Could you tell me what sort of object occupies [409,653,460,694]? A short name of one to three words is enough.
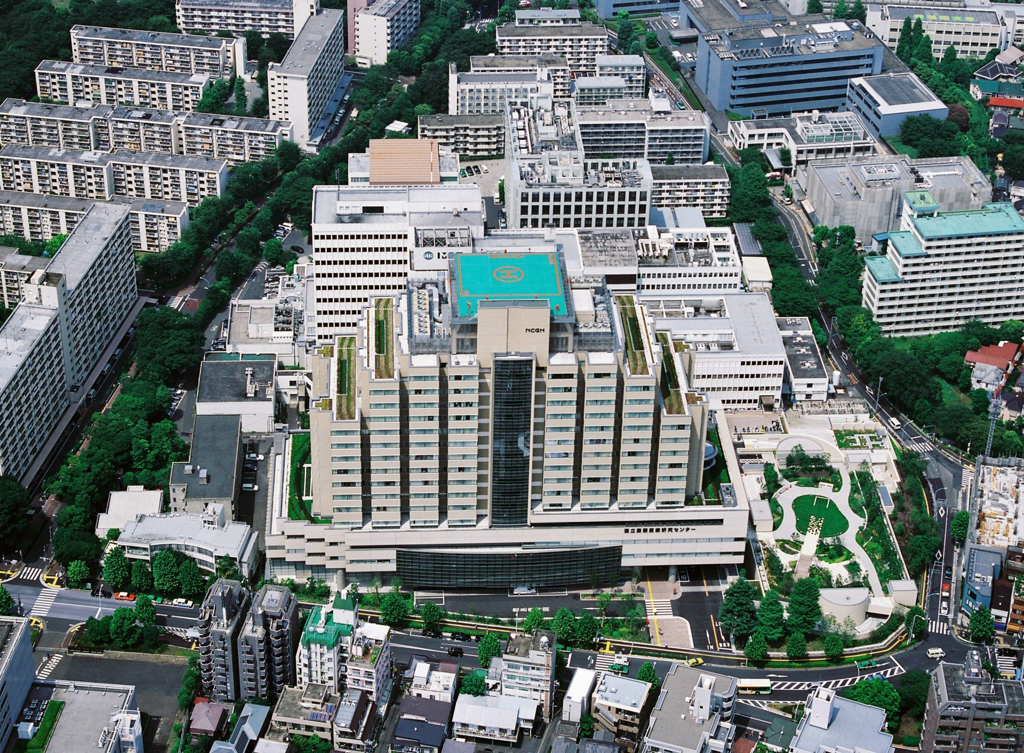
house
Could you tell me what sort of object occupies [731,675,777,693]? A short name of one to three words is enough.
vehicle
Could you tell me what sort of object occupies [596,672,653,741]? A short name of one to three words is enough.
building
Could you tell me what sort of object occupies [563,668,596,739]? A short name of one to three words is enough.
building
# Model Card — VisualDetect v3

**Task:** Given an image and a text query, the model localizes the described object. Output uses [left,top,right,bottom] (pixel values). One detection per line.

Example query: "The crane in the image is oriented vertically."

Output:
[987,287,1024,424]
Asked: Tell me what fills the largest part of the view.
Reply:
buildings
